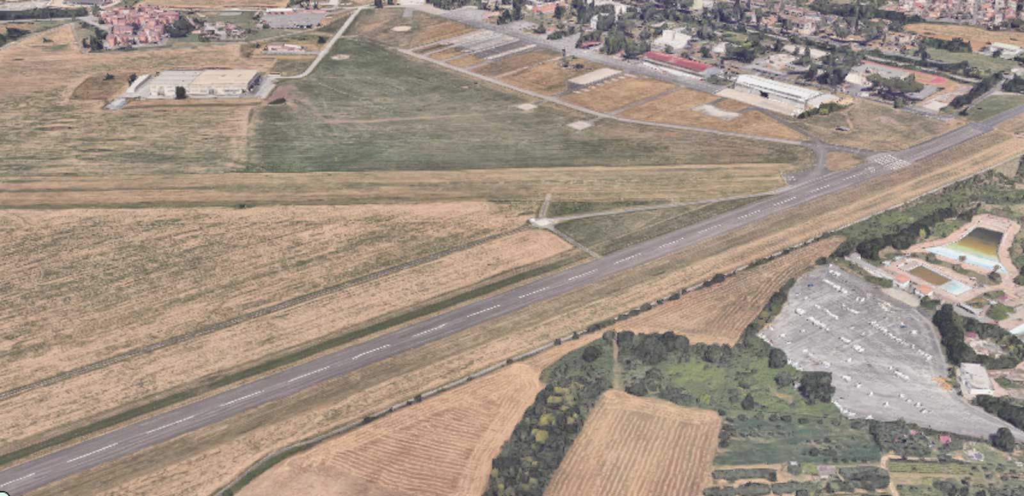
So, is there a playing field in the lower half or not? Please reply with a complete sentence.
No, looking in the lower half, there is no playing field.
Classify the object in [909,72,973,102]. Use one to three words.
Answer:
sports field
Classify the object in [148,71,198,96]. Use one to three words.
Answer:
building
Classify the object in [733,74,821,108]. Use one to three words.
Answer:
hangar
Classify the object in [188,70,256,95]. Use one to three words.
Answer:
building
